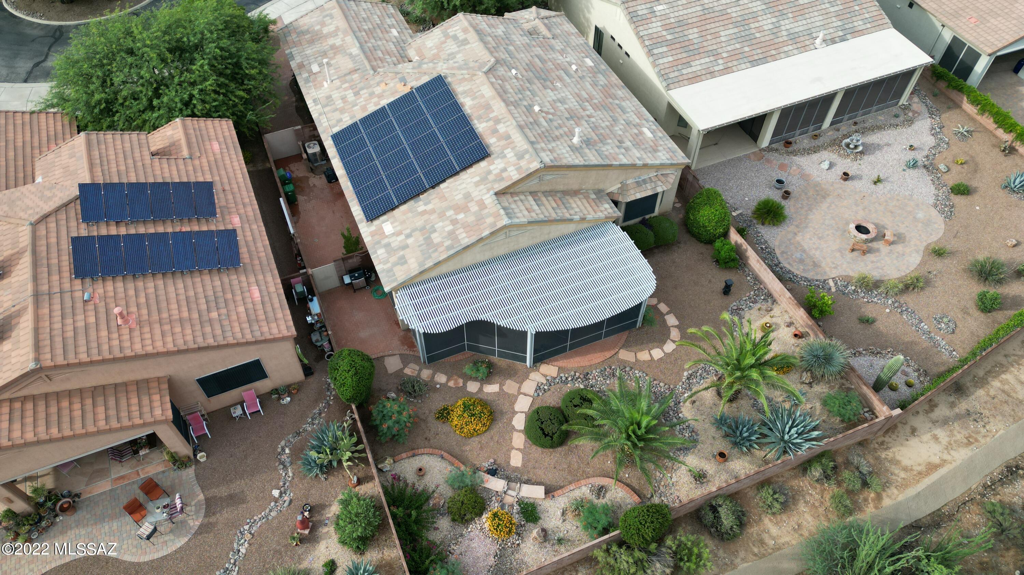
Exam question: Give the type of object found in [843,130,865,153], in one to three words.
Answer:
fountain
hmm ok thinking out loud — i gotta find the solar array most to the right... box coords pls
[308,73,488,222]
